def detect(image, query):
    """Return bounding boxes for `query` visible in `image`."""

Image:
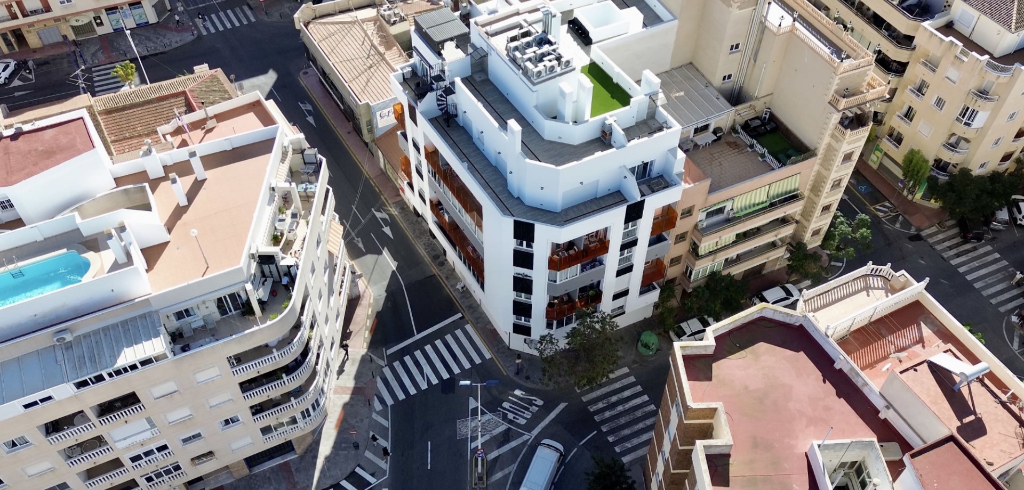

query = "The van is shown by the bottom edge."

[511,435,565,490]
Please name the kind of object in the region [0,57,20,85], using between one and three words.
car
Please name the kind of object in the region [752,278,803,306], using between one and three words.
car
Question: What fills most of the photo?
buildings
